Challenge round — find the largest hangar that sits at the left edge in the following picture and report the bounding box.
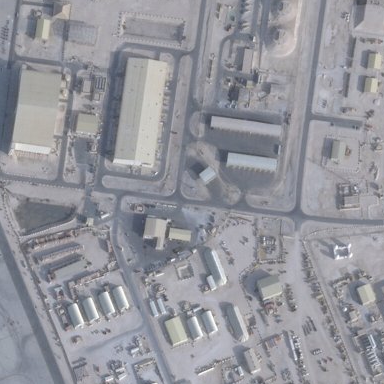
[13,68,59,156]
